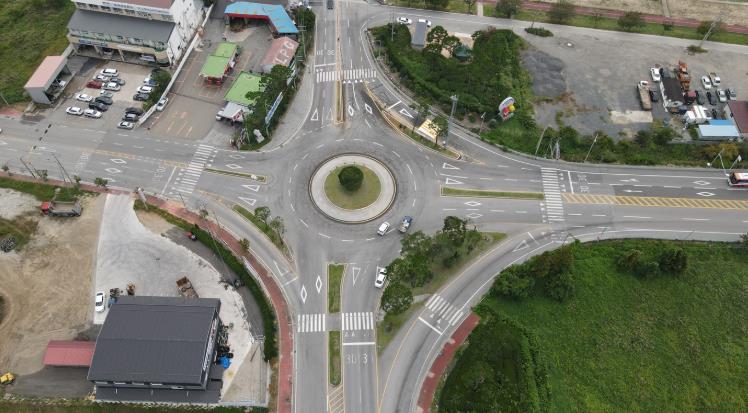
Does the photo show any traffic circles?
Yes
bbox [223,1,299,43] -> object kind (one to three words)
building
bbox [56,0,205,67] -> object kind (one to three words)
building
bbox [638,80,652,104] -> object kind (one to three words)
vehicle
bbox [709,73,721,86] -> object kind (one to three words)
vehicle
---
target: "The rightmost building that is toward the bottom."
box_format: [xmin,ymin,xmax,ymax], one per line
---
[89,298,227,409]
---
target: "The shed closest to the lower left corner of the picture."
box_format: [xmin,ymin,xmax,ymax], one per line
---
[43,341,99,367]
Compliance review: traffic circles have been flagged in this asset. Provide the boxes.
[278,131,427,254]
